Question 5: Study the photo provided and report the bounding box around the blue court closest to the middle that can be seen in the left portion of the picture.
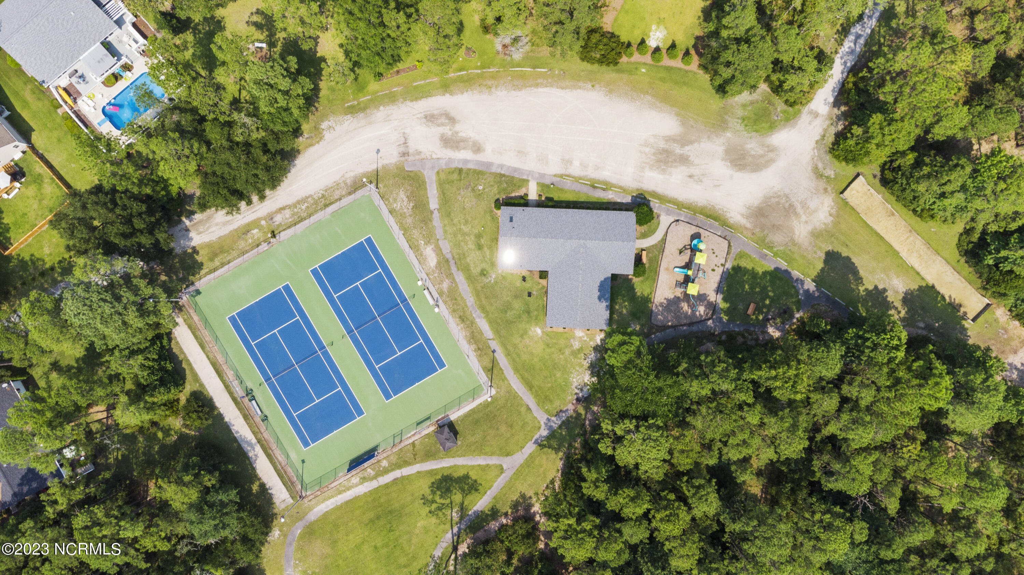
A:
[309,235,447,403]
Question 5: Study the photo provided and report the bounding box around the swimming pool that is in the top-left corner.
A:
[98,70,166,131]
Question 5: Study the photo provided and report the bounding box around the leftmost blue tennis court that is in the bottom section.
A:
[227,282,365,450]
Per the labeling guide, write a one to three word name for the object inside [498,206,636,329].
building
